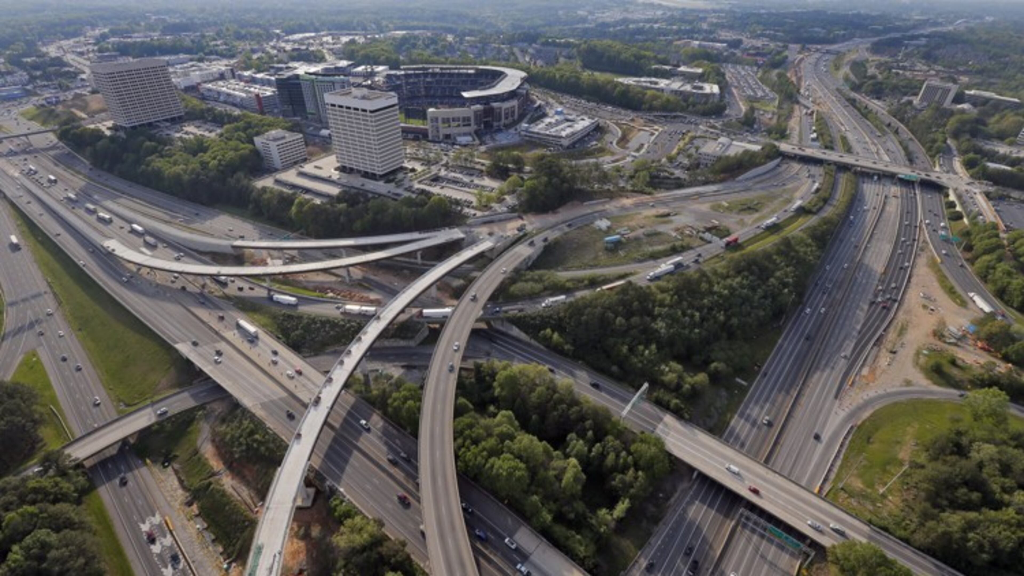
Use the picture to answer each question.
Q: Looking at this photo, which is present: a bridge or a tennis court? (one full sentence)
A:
The image shows a bridge.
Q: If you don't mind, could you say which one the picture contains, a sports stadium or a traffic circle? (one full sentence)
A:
There is a sports stadium in the scene.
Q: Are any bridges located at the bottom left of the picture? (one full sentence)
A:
Yes, a bridge is visible at the bottom left of the picture.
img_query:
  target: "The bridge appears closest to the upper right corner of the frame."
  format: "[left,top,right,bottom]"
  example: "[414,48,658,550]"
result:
[761,140,964,192]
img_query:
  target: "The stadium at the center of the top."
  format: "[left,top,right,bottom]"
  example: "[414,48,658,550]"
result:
[363,65,529,139]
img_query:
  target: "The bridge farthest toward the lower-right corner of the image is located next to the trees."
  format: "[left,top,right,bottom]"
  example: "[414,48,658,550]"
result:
[656,416,848,550]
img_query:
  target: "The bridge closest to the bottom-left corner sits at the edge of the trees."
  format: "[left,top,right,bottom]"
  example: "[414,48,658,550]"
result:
[68,403,158,463]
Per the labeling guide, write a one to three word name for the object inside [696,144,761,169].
building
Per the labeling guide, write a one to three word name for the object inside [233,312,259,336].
truck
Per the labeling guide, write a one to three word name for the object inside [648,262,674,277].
vehicle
